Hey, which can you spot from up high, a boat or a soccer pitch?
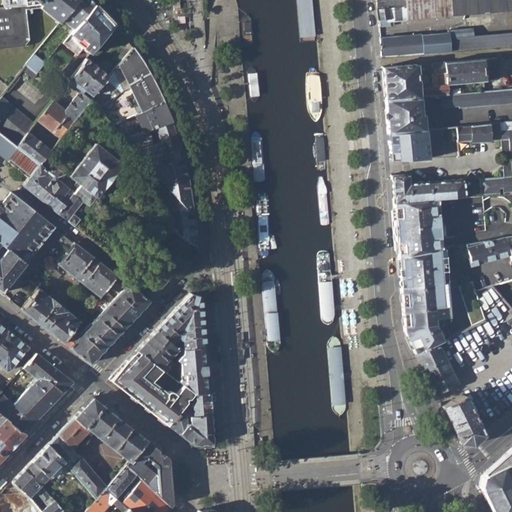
boat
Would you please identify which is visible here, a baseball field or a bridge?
bridge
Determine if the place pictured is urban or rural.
urban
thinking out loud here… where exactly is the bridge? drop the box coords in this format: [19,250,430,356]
[268,453,362,493]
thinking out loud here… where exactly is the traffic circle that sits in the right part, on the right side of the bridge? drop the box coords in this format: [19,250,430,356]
[400,447,440,488]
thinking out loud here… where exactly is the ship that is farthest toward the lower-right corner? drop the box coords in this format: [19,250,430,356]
[324,335,346,420]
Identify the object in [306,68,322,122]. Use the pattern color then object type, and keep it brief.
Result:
white boat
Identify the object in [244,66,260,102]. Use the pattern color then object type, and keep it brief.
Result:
white boat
